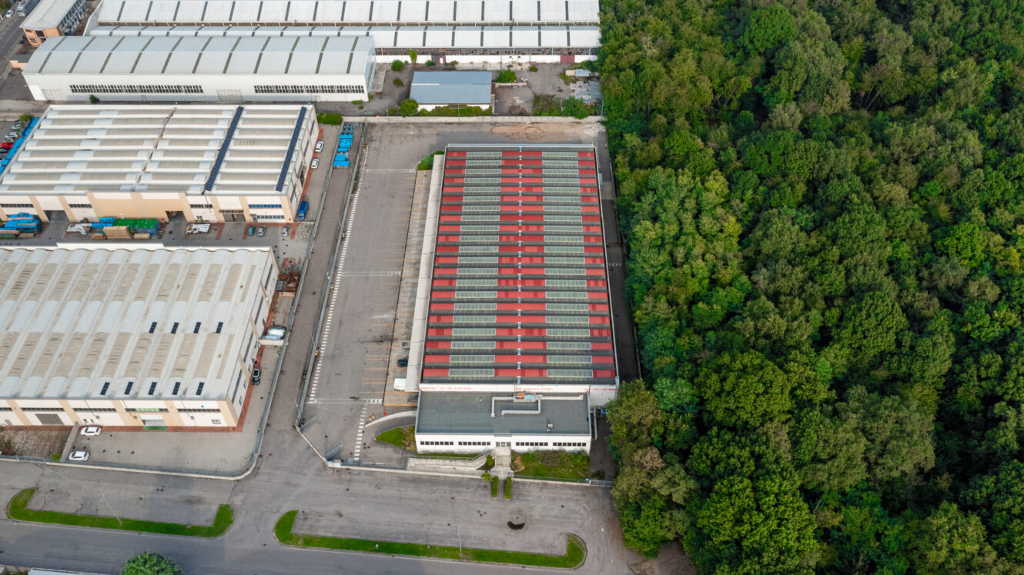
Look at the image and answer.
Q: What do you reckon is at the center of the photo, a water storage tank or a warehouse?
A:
warehouse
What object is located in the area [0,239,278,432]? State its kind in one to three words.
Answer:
building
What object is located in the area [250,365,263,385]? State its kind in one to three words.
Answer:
vehicle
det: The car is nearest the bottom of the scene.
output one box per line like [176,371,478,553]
[67,449,92,461]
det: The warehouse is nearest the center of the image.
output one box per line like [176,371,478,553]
[407,146,621,410]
